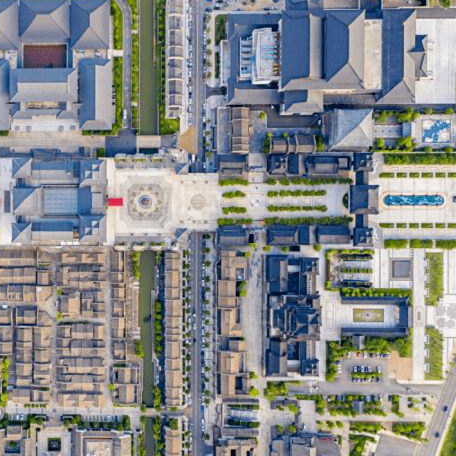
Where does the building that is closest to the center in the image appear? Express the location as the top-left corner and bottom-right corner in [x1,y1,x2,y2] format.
[218,225,249,246]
